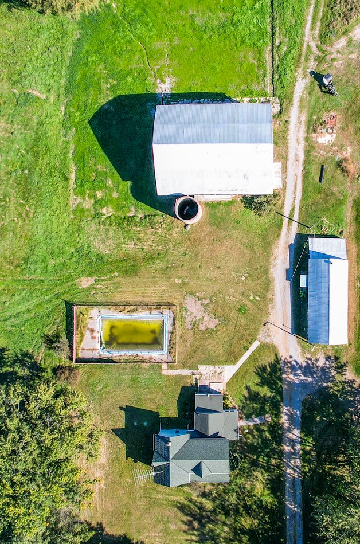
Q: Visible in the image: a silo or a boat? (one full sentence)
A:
There is a silo in the scene.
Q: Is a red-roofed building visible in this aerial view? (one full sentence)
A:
No, the scene contains no red-roofed building.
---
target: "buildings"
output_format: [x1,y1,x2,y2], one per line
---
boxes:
[151,393,240,488]
[152,103,274,196]
[300,239,347,345]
